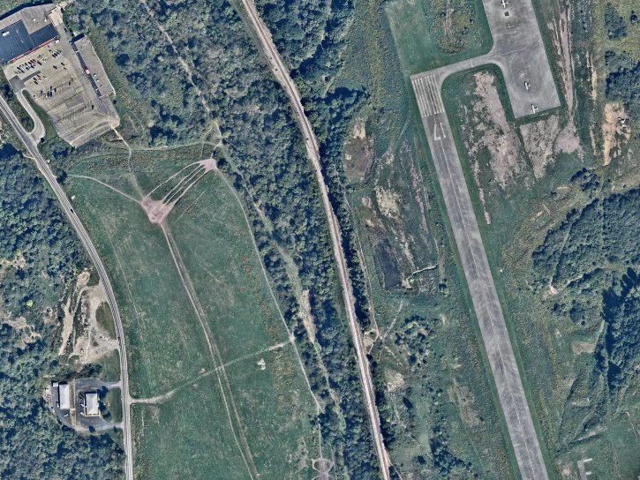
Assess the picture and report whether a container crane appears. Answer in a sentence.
No, no container crane can be seen from above.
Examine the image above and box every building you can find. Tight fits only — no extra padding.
[58,384,70,409]
[0,3,58,64]
[85,393,98,415]
[71,34,114,97]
